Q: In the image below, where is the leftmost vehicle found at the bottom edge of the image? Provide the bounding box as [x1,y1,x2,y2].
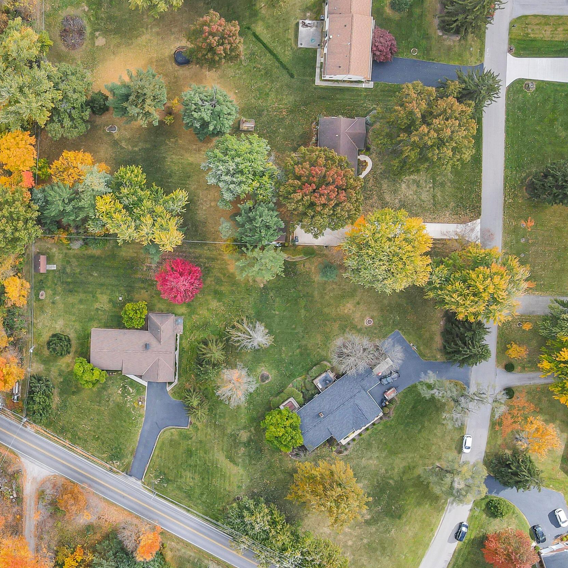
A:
[455,522,468,542]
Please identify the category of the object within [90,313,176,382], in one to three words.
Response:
house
